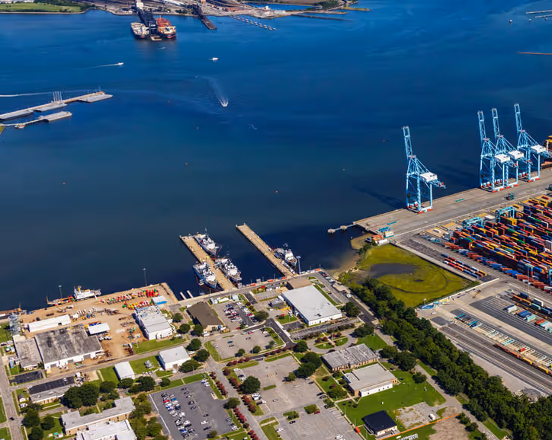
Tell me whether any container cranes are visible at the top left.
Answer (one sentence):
No, there is no container crane at the top left.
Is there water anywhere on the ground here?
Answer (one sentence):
Yes, water can be seen from above here.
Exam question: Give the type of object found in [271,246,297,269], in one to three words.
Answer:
ship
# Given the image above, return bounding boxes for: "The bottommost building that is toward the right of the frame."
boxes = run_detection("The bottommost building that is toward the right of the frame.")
[362,410,397,438]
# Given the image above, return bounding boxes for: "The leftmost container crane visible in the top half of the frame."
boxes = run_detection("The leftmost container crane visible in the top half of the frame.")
[403,127,446,213]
